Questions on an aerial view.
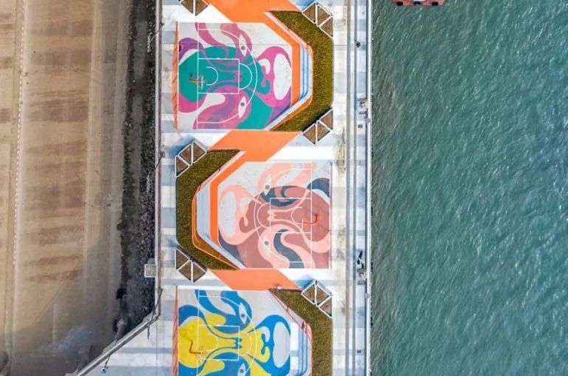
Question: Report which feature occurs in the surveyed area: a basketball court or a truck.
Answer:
basketball court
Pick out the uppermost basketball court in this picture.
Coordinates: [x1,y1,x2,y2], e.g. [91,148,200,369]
[177,21,292,130]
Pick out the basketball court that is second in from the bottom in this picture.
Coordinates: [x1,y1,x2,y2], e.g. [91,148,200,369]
[218,160,330,269]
